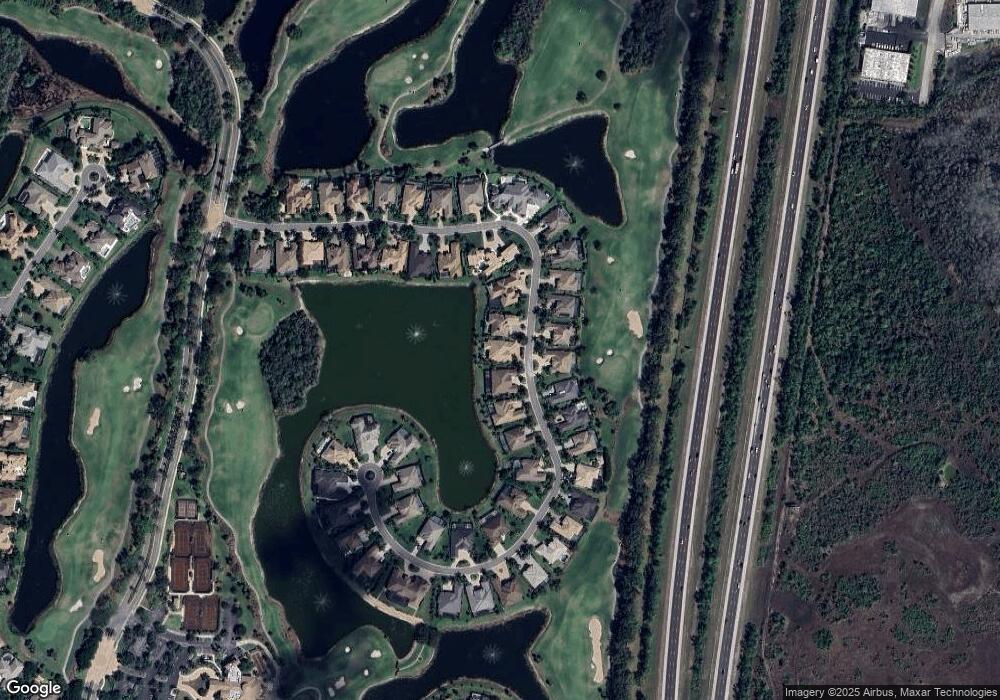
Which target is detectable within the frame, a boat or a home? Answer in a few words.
home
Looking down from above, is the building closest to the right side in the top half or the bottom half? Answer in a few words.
top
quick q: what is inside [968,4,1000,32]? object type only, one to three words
building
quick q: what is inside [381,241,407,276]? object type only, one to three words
house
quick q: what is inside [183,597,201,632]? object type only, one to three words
tennis court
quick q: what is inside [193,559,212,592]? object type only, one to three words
tennis court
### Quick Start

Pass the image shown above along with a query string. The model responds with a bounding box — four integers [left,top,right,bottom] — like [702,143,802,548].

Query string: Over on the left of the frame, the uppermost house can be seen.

[70,114,113,146]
